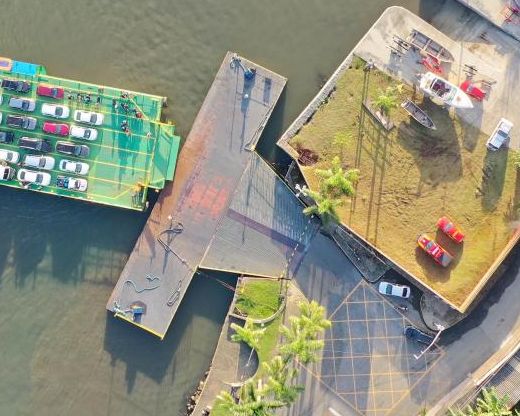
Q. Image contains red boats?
Yes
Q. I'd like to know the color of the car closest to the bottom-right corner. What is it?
blue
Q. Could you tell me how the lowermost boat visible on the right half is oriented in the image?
on a diagonal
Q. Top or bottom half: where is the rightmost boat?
top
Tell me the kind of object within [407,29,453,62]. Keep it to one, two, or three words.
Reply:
boat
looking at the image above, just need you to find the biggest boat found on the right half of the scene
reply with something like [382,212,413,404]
[414,73,474,110]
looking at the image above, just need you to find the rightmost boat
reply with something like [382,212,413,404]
[458,80,486,101]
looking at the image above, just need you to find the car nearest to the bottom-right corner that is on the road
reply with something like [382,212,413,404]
[400,324,432,344]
